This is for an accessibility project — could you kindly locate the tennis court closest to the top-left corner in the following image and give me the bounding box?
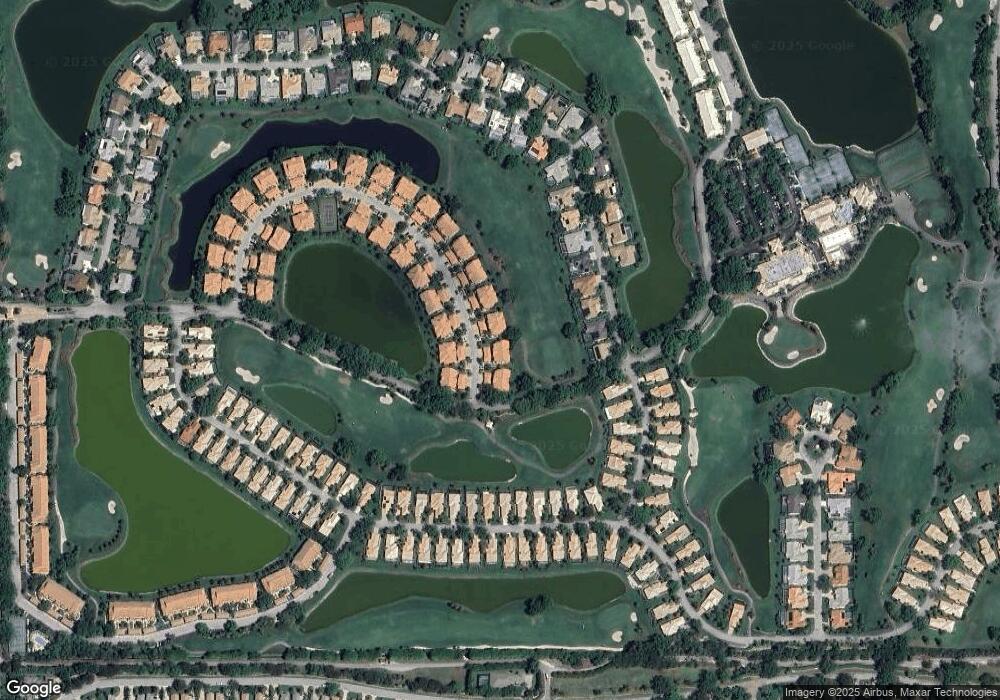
[318,198,336,233]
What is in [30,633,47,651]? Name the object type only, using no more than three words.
swimming pool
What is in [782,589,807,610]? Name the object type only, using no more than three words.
house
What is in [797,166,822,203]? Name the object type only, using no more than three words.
tennis court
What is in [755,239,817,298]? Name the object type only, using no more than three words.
building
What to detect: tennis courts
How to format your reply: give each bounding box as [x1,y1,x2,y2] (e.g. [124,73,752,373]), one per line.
[828,151,854,184]
[797,166,822,203]
[784,135,810,170]
[766,108,789,142]
[814,158,839,191]
[318,198,336,233]
[10,616,26,655]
